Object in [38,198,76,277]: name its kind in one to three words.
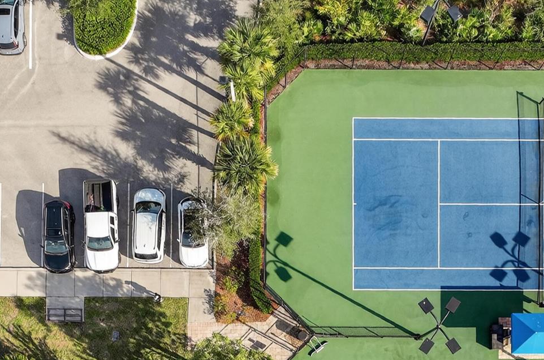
car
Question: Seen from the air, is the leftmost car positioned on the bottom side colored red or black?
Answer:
black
